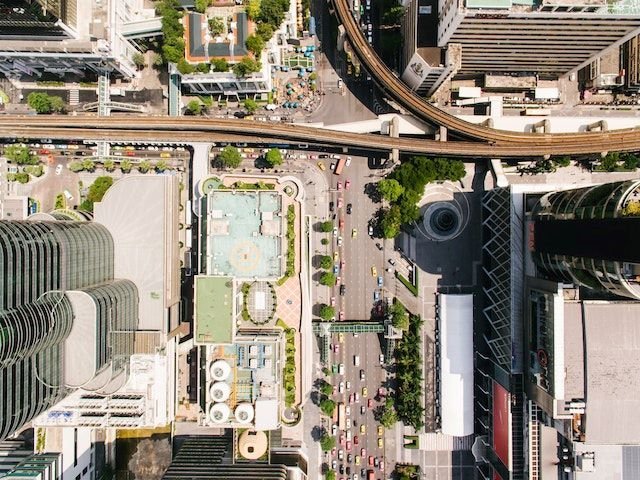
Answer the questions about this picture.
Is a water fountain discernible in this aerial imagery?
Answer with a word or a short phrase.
Yes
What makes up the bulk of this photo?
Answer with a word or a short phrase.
buildings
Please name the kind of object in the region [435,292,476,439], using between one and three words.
tent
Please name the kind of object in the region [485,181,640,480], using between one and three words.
building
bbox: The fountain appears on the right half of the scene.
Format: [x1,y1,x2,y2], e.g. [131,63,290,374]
[422,198,459,236]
